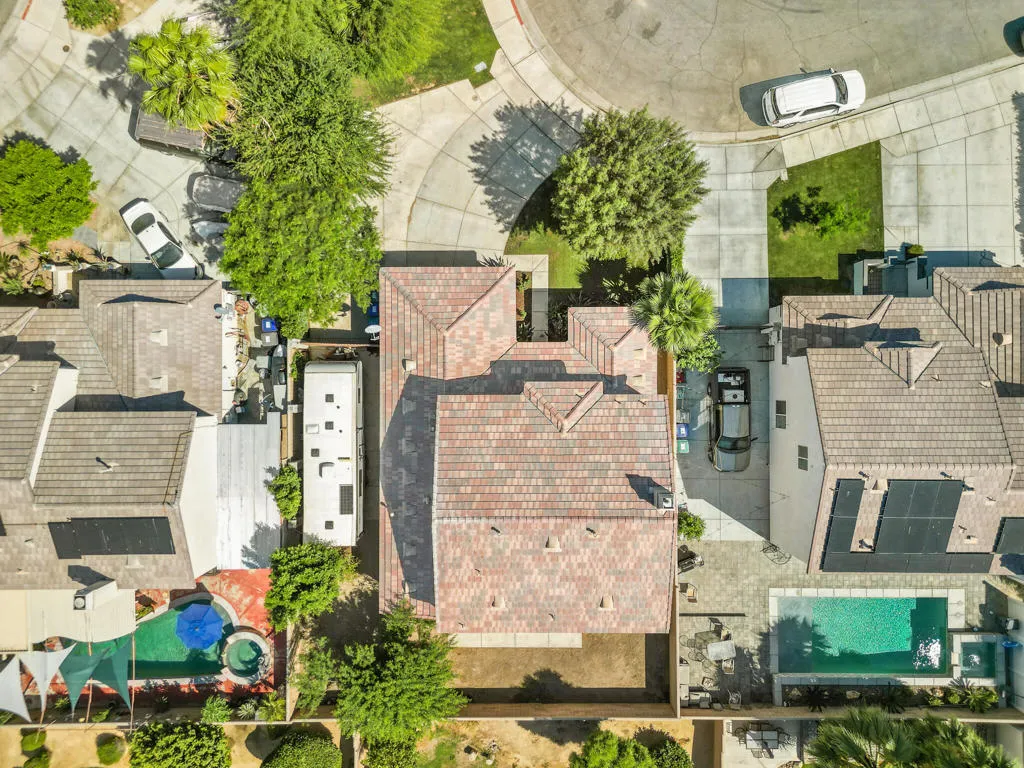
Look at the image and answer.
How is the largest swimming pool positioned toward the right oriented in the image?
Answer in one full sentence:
Seen from above, the largest swimming pool positioned toward the right lies from side to side.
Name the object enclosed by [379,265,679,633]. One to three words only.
house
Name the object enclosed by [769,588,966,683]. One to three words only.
swimming pool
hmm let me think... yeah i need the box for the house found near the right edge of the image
[769,265,1024,574]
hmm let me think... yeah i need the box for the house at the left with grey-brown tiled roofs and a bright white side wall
[0,278,240,614]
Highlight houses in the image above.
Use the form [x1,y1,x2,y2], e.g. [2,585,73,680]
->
[769,265,1024,574]
[0,278,240,614]
[379,265,679,633]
